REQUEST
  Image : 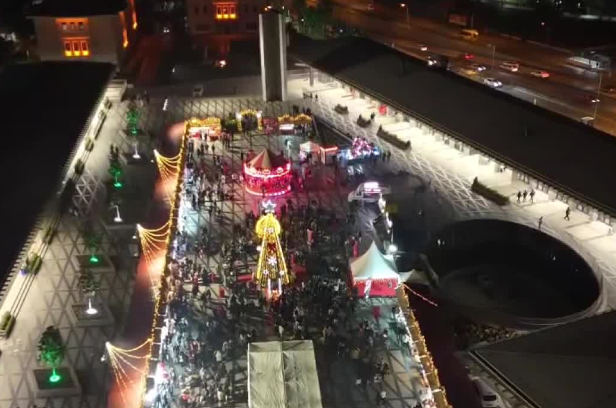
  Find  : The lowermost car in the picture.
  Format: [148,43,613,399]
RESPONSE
[465,369,509,406]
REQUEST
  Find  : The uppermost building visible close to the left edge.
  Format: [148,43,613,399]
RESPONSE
[22,0,162,64]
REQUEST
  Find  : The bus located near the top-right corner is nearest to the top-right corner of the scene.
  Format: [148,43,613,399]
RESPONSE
[572,45,615,68]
